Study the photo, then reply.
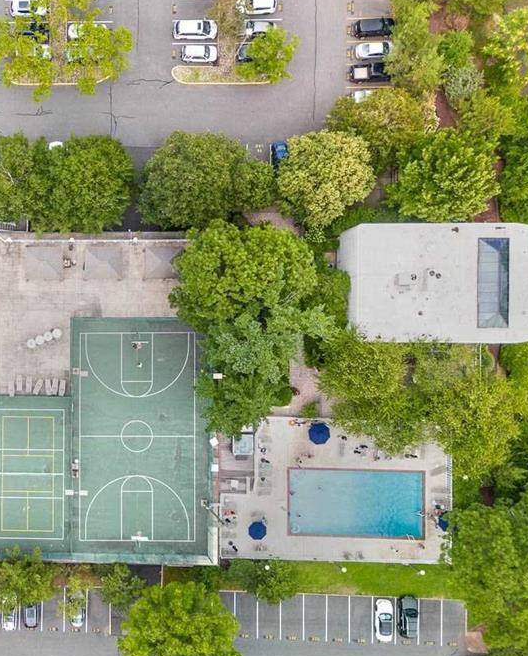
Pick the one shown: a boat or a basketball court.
basketball court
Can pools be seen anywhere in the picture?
Yes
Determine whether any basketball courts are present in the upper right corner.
No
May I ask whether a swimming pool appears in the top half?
No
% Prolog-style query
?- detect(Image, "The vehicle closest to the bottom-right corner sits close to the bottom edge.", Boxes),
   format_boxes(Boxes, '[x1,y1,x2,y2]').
[397,598,419,639]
